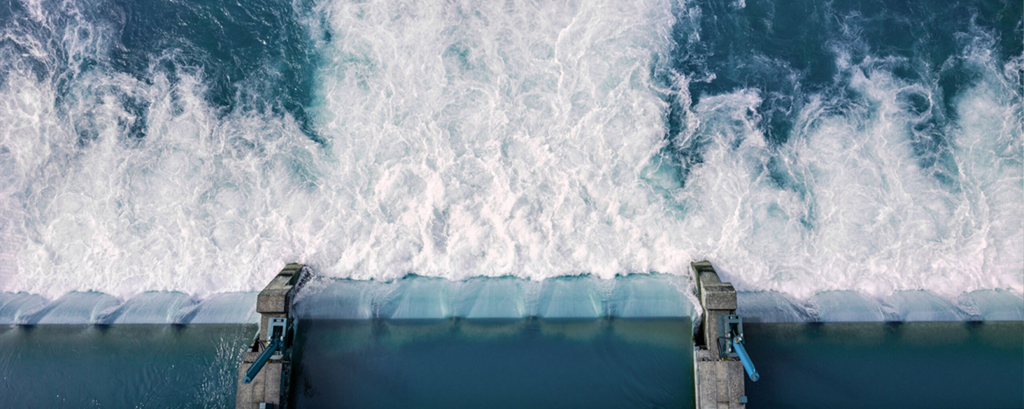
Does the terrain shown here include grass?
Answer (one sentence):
No, no grass is visible.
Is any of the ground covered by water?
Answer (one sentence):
Yes, there's water in this view.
